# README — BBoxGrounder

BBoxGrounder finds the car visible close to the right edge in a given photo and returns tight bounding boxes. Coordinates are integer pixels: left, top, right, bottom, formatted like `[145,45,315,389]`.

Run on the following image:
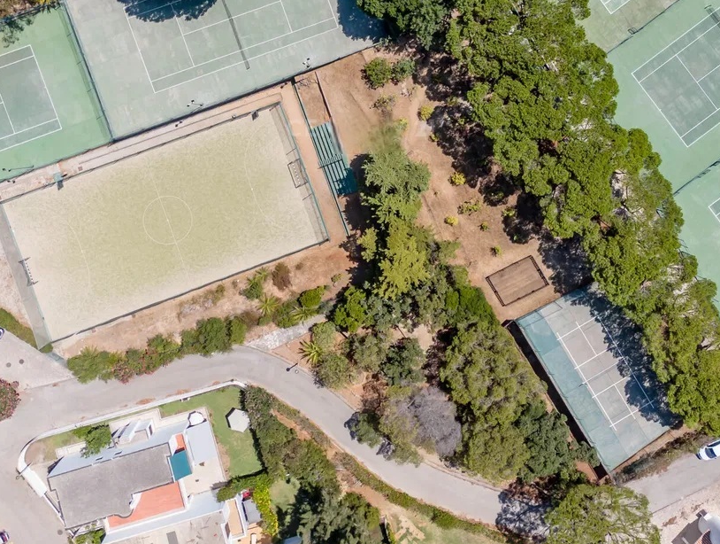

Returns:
[695,436,720,461]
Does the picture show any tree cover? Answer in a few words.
Yes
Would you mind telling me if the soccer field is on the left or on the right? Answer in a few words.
left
